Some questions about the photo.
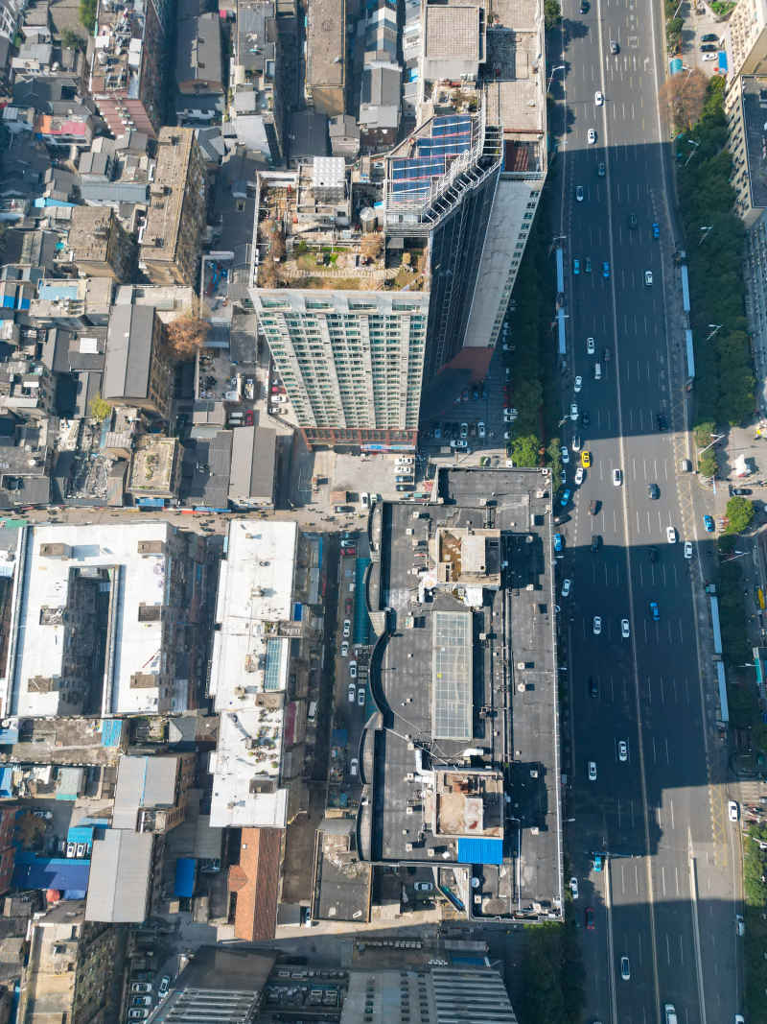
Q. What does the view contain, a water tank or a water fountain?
water tank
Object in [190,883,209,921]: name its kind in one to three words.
shed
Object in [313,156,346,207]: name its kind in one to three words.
water tank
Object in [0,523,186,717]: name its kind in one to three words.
building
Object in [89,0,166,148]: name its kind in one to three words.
building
